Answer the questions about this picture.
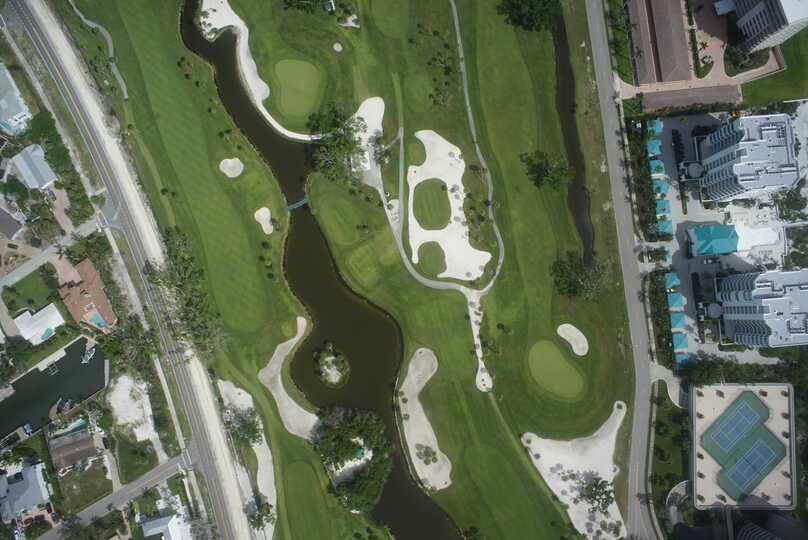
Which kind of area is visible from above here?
golf course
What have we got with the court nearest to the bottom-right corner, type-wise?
tennis court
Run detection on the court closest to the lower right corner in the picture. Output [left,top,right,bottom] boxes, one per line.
[716,425,787,501]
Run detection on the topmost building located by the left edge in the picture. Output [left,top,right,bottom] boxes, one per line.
[0,62,34,133]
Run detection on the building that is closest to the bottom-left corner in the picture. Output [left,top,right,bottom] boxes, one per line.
[0,463,53,516]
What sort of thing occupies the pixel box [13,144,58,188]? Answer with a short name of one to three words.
house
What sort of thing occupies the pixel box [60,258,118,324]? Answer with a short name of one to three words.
house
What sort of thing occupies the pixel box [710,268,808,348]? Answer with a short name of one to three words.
building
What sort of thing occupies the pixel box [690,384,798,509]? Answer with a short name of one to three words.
building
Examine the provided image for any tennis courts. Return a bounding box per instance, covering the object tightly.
[701,391,769,466]
[716,425,787,501]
